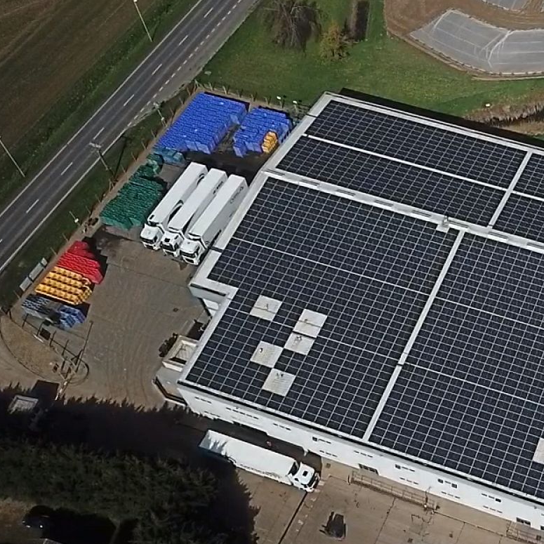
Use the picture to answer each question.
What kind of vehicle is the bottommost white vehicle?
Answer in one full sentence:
From above, the bottommost white vehicle can be identified as a truck.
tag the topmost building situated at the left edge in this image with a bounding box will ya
[5,392,50,424]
